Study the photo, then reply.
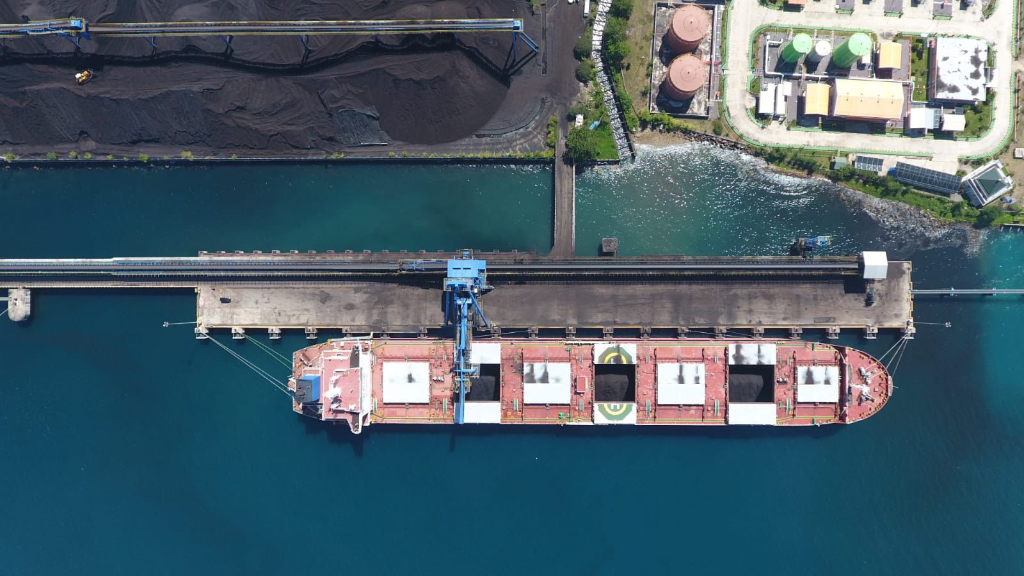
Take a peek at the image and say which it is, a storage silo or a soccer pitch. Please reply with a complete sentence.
Visible in the photo is a storage silo.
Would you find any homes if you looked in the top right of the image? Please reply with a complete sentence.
Yes, a home is visible in the top right of the image.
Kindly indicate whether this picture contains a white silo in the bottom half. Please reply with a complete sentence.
No, the scene shows no white silo in the bottom half.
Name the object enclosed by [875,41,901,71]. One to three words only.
house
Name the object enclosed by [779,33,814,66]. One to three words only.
silo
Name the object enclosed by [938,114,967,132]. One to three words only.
building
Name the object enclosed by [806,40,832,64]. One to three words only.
silo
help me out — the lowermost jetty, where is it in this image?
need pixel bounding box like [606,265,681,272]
[197,248,912,339]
